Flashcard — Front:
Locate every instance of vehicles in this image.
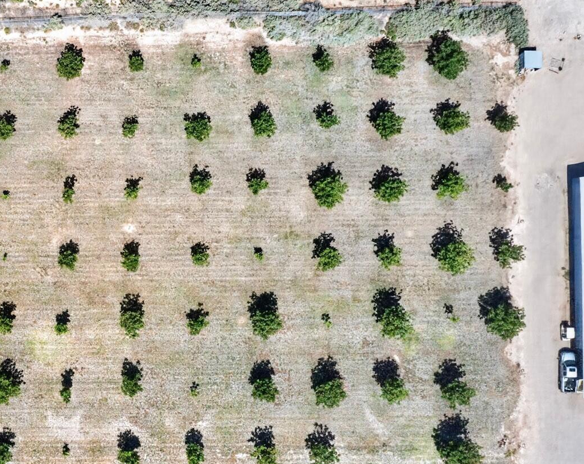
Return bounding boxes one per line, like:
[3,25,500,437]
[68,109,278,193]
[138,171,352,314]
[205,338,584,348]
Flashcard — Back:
[559,321,576,340]
[557,349,579,394]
